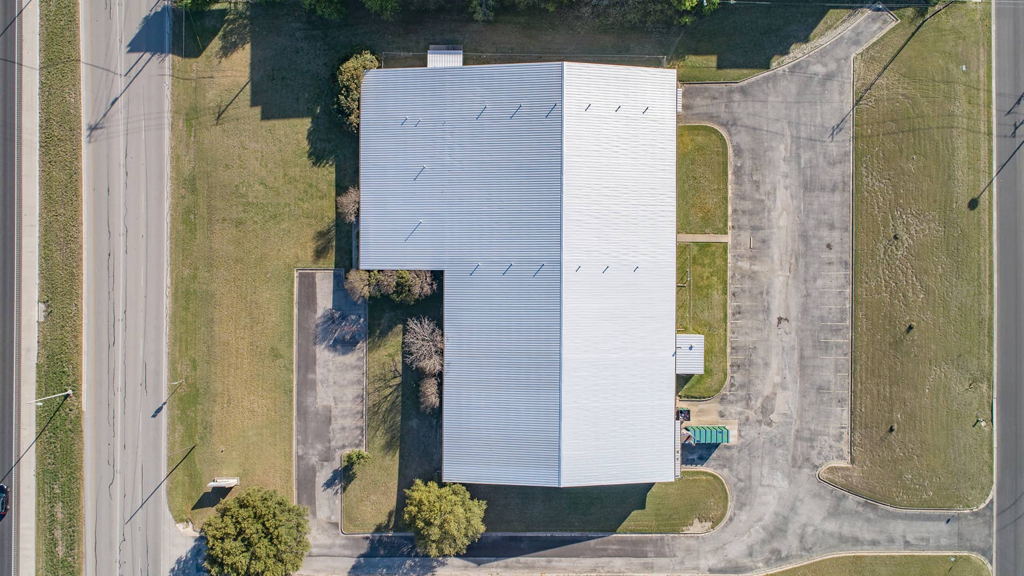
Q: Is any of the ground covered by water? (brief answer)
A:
No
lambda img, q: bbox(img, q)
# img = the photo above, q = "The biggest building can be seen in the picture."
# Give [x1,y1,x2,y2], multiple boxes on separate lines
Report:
[360,50,704,488]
